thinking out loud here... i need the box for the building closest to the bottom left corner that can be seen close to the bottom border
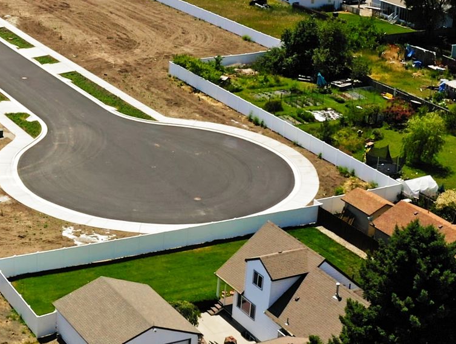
[50,273,202,344]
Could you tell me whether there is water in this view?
No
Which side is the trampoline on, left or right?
right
